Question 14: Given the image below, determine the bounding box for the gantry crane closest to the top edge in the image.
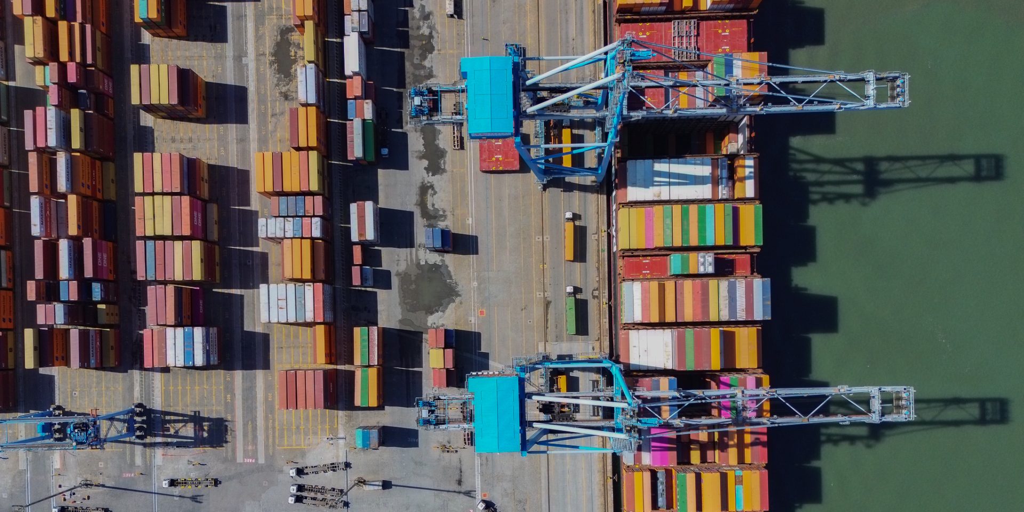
[408,31,916,193]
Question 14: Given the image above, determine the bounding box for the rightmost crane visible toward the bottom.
[415,348,922,463]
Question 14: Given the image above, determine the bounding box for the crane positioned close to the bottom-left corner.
[0,401,143,454]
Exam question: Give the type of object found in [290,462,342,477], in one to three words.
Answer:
vehicle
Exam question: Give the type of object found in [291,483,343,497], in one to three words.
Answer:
vehicle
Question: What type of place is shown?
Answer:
port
